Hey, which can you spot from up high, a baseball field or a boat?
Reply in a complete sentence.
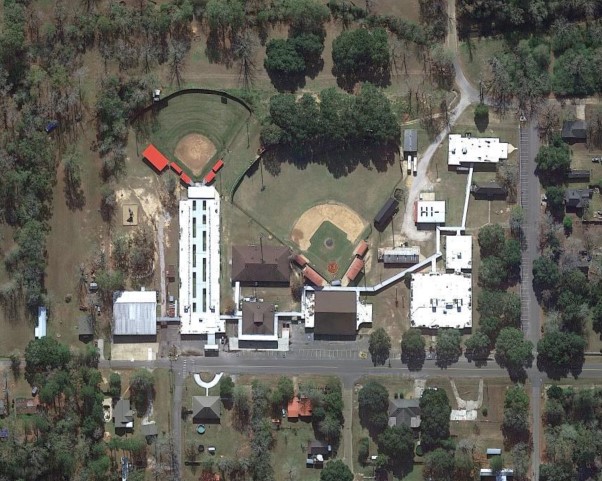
The image shows a baseball field.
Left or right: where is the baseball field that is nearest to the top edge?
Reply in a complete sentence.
The baseball field that is nearest to the top edge appears in the left half of the scene.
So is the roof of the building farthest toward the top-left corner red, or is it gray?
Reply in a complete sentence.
In this view, the roof of the building farthest toward the top-left corner is red.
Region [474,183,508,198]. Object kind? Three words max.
shed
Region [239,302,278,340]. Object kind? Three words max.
building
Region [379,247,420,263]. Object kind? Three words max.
building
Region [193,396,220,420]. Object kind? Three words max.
house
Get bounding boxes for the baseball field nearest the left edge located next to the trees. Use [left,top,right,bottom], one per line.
[140,92,249,182]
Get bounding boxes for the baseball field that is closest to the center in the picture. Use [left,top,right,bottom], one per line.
[233,101,403,282]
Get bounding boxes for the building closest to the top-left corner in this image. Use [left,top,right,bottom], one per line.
[142,145,169,171]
